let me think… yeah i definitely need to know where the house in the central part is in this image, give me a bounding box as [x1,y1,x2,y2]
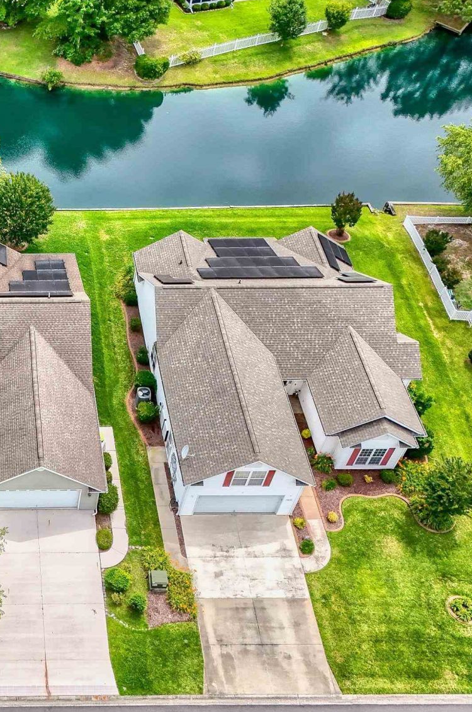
[131,226,427,521]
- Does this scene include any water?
Yes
